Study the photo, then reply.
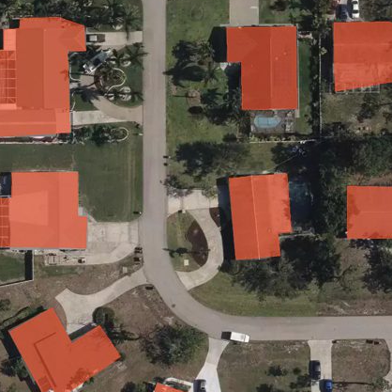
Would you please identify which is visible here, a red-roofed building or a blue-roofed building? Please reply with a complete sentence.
It is a red-roofed building that can be seen here.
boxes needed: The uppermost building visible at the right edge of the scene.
[334,22,392,91]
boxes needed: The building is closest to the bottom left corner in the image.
[8,309,120,392]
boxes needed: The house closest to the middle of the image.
[229,174,293,260]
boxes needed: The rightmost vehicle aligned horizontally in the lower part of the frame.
[229,331,253,344]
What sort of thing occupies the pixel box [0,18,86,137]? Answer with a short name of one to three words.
house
